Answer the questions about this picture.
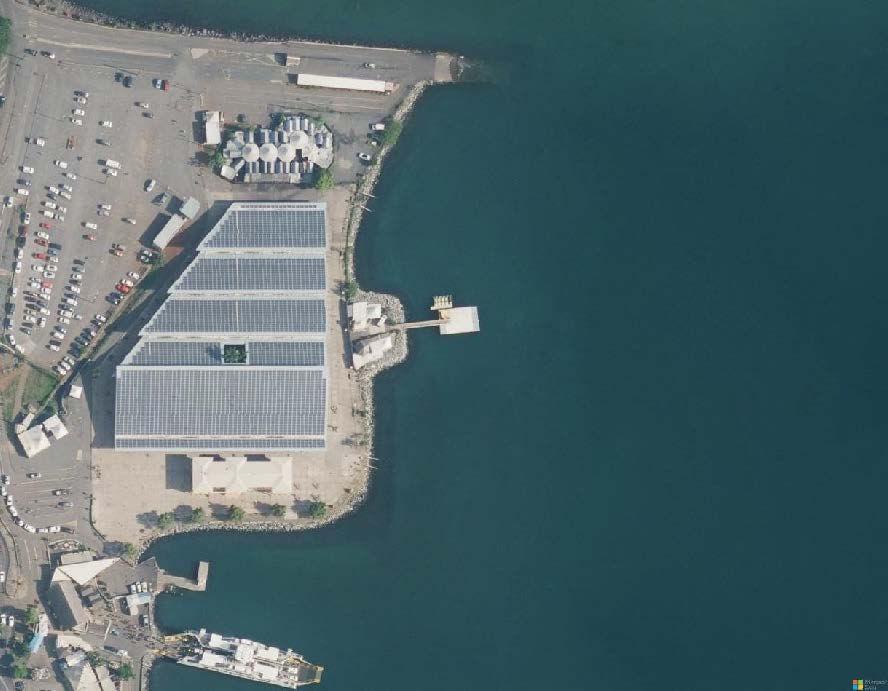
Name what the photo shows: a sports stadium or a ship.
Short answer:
ship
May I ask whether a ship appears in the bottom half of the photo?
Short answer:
Yes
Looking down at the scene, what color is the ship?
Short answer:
white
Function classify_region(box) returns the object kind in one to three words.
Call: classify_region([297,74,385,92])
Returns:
building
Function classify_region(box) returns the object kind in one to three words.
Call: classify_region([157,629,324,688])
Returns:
ship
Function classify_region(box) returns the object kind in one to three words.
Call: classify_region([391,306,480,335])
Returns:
pier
